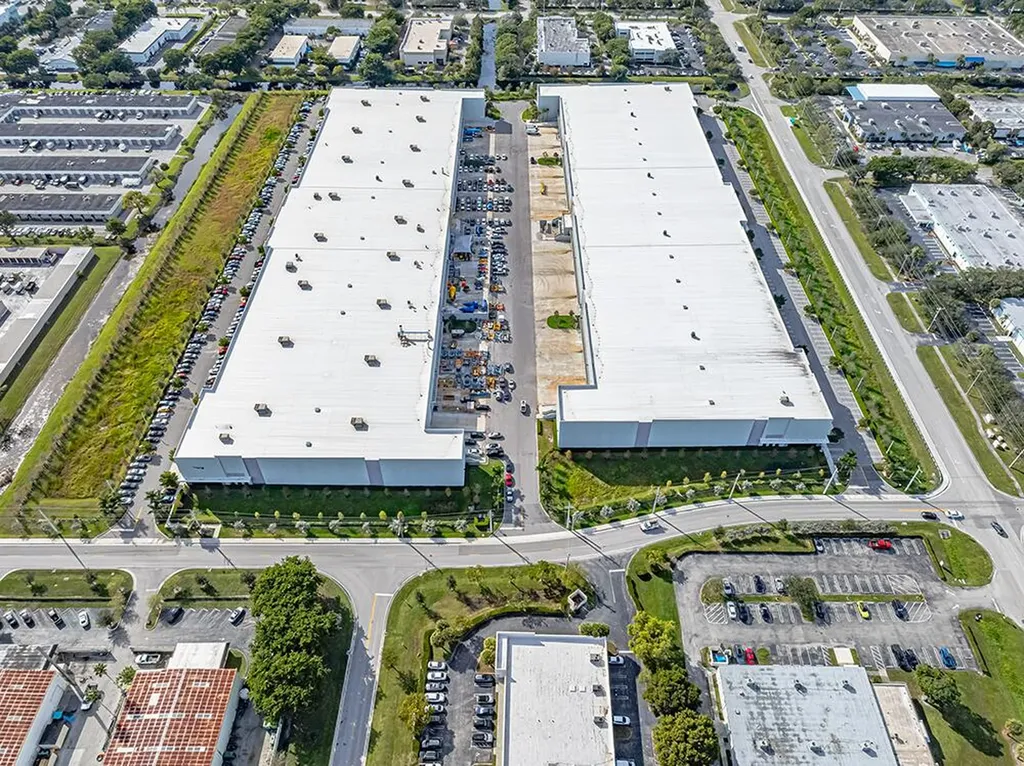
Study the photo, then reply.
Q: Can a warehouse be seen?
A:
Yes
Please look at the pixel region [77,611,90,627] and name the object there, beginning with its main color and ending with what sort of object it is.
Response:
white vehicle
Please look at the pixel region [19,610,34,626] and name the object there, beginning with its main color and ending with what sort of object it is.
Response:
gray car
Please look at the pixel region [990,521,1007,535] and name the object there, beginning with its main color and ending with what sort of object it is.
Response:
gray car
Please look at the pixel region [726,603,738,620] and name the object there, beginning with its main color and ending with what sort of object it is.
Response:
white vehicle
